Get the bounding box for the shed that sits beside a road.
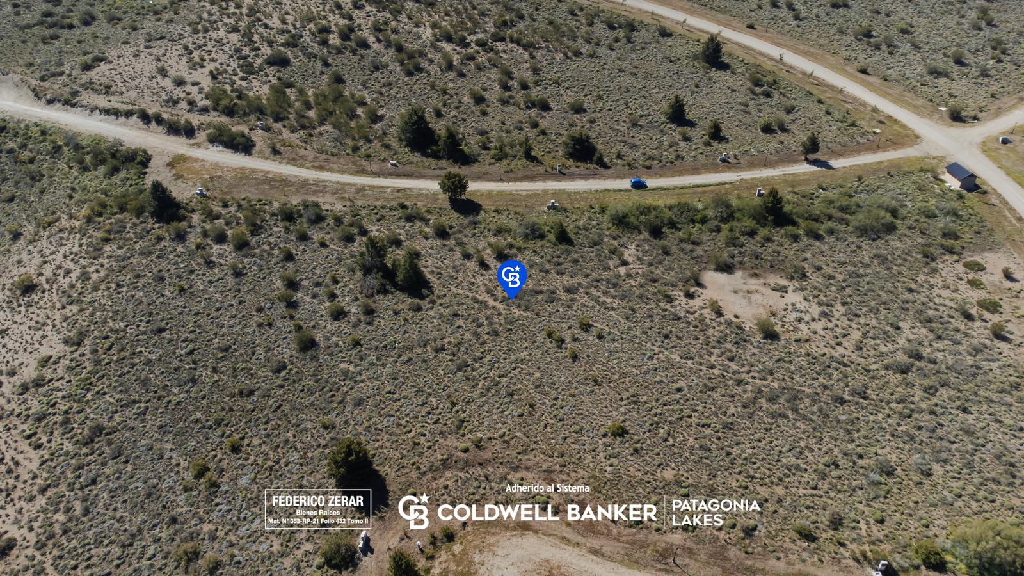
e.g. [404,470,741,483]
[942,163,981,188]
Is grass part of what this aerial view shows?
Yes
